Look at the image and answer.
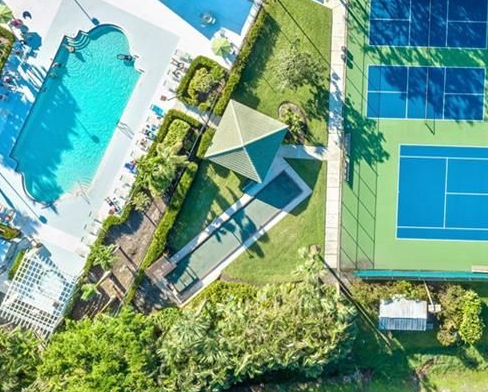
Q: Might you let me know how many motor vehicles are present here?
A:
0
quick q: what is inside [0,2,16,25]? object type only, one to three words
umbrella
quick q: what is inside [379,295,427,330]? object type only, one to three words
shed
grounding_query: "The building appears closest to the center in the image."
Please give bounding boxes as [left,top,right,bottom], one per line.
[204,98,289,183]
